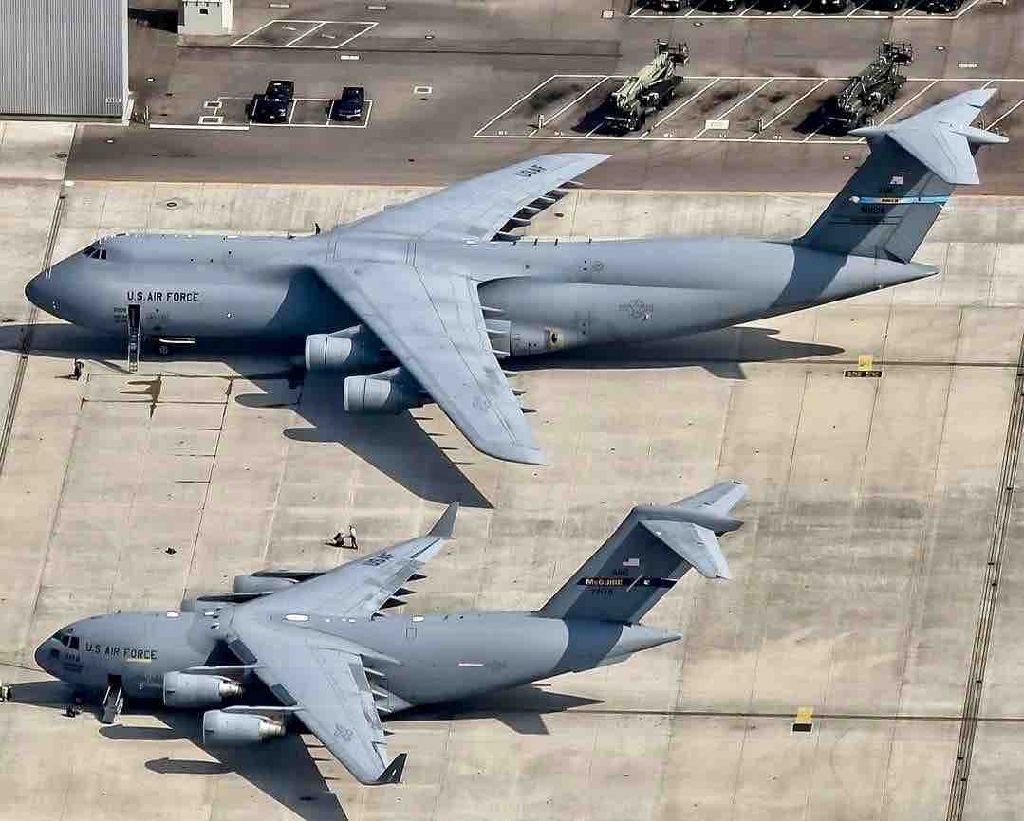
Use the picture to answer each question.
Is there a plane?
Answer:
Yes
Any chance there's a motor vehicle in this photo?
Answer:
Yes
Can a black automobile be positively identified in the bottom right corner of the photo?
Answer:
No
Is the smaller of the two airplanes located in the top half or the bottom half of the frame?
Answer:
bottom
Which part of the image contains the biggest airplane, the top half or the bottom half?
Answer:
top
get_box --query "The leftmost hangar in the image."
[0,0,141,122]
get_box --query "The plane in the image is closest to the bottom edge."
[34,483,748,781]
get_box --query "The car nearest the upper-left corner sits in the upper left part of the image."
[260,75,297,117]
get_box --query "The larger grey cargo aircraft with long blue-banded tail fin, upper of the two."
[24,87,1009,466]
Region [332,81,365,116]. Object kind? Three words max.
car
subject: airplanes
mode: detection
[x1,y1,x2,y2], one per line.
[34,483,748,781]
[24,87,1009,466]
